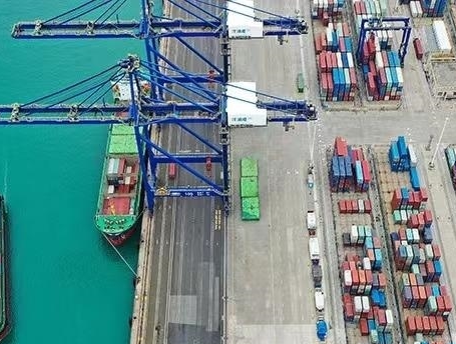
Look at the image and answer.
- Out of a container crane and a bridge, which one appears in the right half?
container crane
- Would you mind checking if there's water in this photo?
Yes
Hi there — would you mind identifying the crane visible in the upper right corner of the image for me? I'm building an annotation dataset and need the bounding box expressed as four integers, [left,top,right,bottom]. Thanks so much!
[355,17,413,67]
